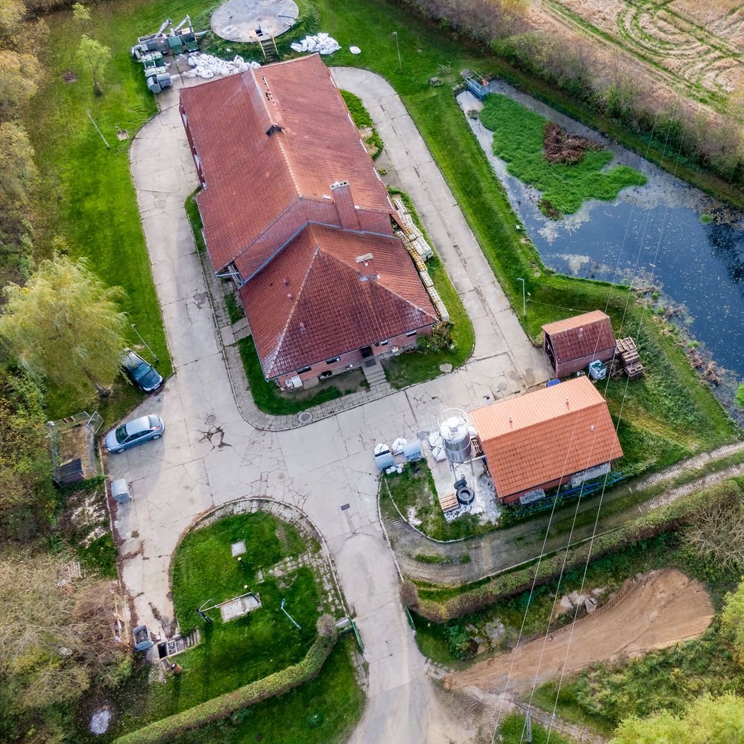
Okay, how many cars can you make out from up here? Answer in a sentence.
The picture shows 2 cars.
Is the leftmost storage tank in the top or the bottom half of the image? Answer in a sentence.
You can find the leftmost storage tank in the top half.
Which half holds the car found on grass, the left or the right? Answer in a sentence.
The car found on grass sits on the left side.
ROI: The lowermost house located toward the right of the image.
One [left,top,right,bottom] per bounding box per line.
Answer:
[467,375,625,505]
